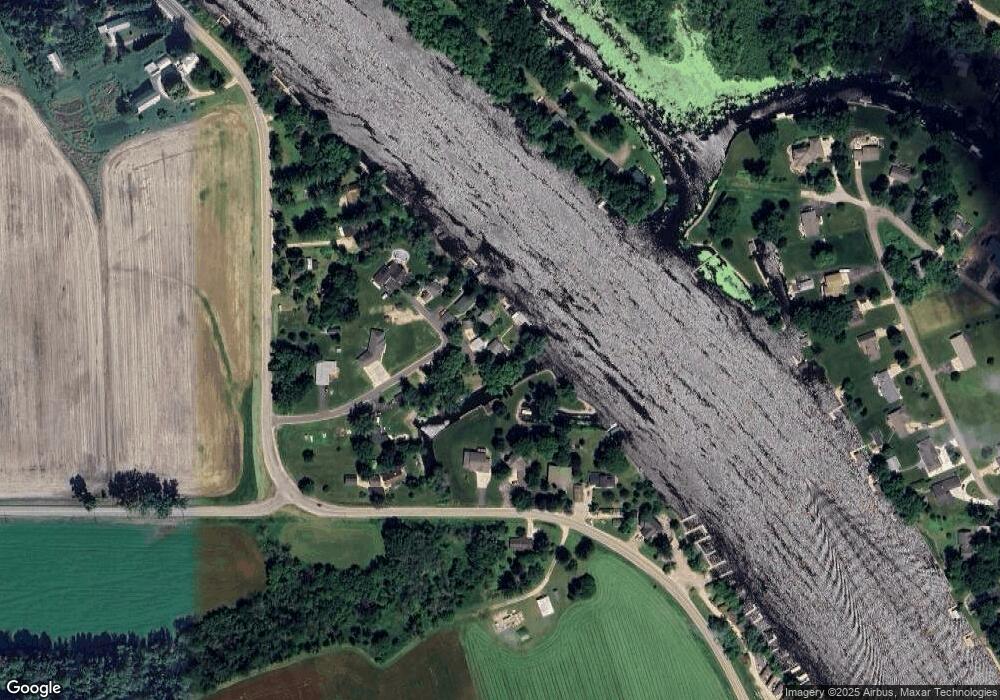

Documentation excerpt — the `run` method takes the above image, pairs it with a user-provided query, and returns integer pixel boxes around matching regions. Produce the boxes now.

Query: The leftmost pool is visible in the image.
[392,245,409,264]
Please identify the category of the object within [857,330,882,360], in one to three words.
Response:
house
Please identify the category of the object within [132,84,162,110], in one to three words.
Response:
barn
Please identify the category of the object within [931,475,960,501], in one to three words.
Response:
house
